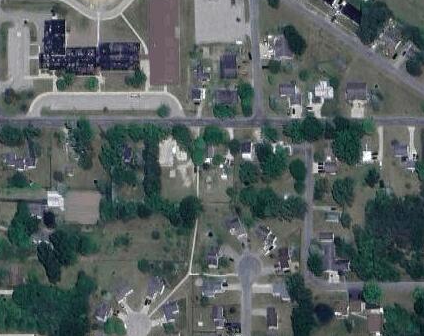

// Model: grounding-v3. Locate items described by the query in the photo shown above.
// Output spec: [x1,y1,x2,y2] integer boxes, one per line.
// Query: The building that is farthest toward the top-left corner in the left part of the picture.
[39,20,142,76]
